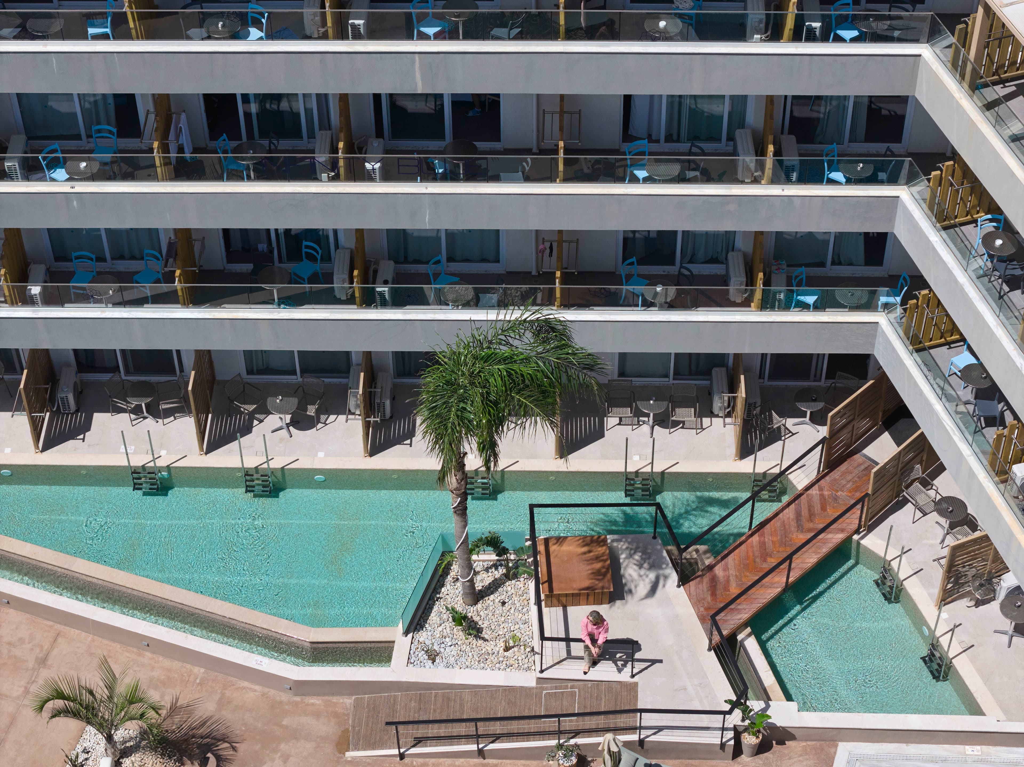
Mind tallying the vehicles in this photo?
0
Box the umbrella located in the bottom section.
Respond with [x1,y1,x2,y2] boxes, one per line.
[592,732,629,767]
